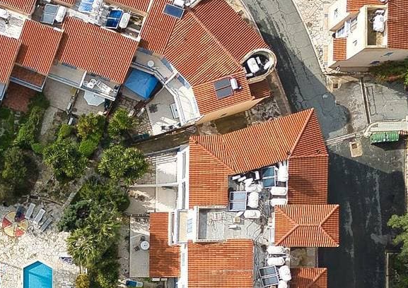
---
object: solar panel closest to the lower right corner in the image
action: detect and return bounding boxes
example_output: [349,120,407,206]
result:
[255,266,278,287]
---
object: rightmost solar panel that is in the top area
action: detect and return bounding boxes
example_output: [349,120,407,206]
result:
[211,76,232,100]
